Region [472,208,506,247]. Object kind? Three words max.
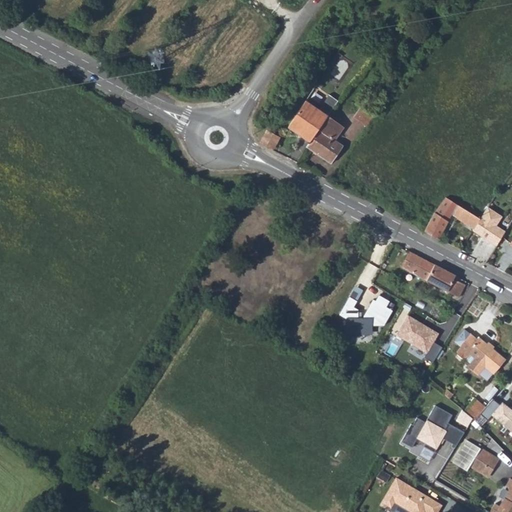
house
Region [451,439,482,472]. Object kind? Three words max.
greenhouse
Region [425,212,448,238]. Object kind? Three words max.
barn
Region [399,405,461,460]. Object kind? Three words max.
house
